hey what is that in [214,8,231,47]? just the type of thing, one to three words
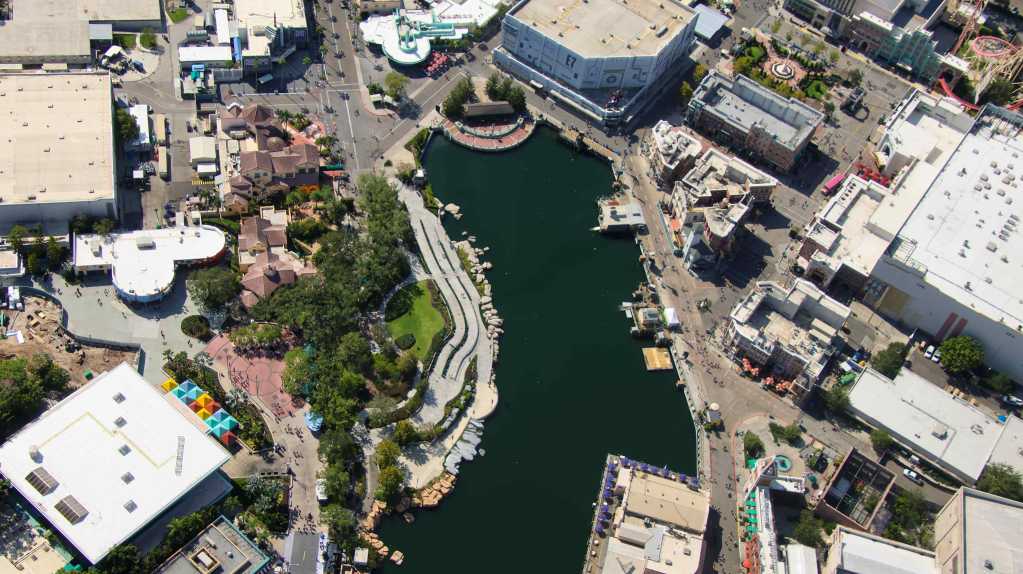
shed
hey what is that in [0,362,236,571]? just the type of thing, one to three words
building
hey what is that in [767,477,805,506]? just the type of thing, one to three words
building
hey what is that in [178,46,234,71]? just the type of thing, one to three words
shed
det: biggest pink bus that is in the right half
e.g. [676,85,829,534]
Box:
[820,173,847,196]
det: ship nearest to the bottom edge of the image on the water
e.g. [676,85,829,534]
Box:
[642,348,671,374]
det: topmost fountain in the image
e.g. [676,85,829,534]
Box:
[771,53,797,77]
